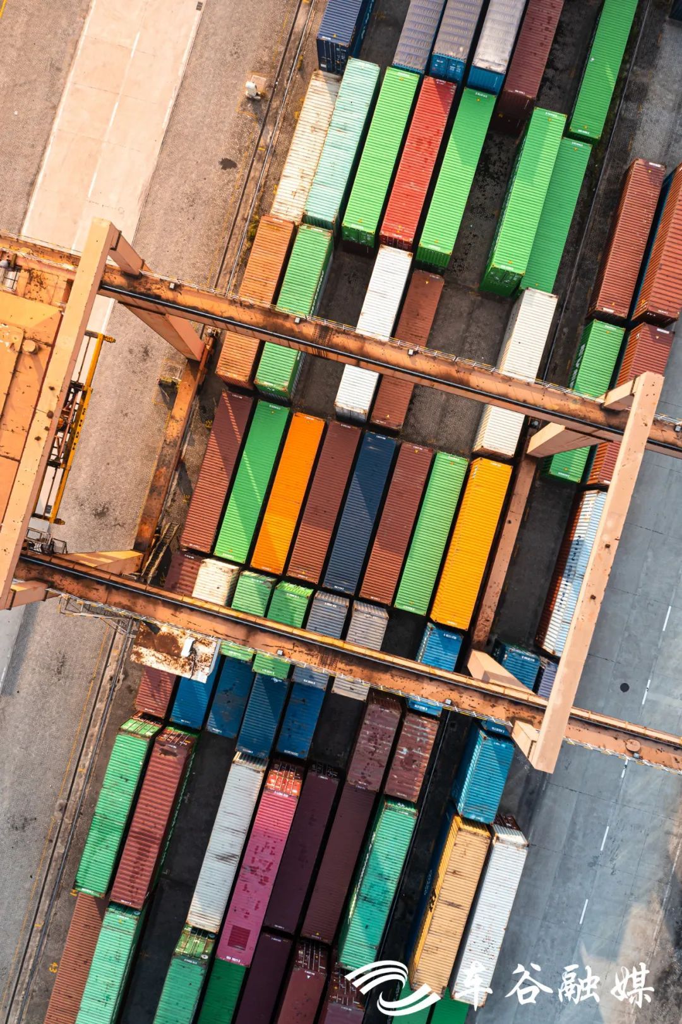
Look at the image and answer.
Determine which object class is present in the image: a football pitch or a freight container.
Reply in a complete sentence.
Of the two, only a freight container appears.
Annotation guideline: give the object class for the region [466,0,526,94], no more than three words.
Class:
shipping container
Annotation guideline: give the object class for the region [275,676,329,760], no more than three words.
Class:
shipping container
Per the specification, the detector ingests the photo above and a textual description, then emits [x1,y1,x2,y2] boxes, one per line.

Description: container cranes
[0,218,682,777]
